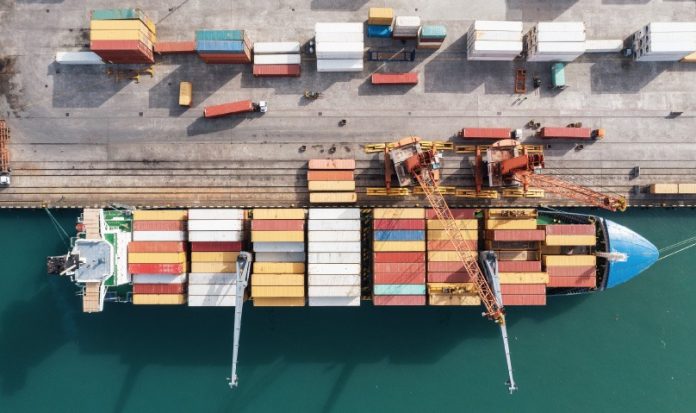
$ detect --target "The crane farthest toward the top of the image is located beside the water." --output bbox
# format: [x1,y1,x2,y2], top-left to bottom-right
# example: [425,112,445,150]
[454,139,627,215]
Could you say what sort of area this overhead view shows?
port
